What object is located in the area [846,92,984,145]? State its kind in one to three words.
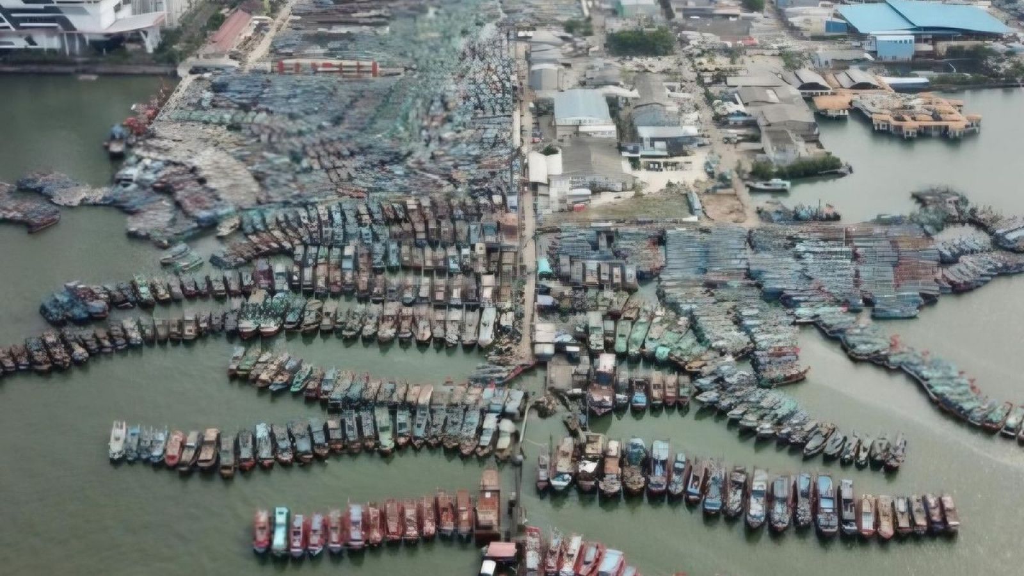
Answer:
building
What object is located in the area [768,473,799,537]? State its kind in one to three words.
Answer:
boat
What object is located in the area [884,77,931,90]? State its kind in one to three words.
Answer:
building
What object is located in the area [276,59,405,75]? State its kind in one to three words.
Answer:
ship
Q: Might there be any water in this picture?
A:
Yes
